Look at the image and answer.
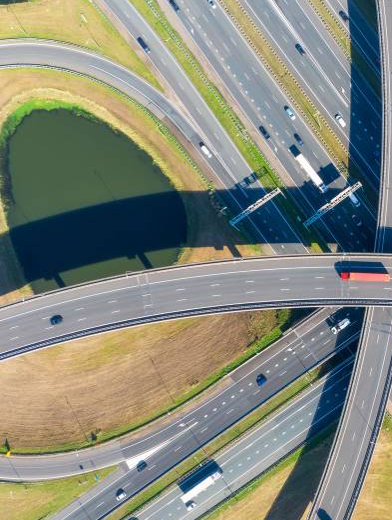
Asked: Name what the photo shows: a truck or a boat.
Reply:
truck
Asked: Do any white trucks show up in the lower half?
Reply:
Yes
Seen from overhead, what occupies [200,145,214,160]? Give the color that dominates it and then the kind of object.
white vehicle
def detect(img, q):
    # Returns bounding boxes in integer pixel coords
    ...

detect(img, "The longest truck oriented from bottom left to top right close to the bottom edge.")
[180,470,224,506]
